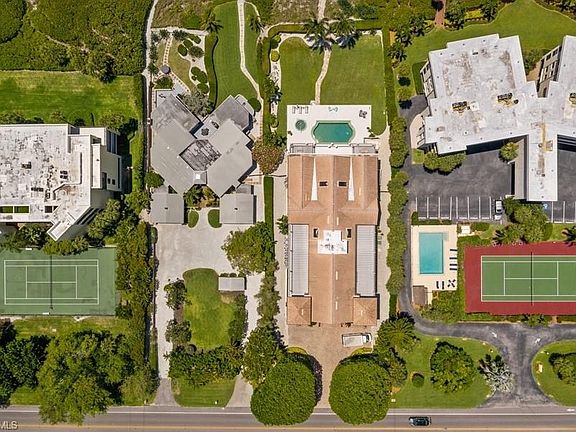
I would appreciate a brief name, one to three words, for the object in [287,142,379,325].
house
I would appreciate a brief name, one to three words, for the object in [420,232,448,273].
swimming pool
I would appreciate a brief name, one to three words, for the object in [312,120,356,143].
swimming pool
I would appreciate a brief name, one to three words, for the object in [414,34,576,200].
building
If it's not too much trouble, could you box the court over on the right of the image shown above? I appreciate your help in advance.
[465,242,576,313]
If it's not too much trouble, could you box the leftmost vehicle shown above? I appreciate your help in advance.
[342,334,371,348]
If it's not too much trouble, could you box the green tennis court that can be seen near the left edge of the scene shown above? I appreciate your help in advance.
[0,247,116,315]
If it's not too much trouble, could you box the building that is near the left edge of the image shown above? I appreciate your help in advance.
[0,124,122,240]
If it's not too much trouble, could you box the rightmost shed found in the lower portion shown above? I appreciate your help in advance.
[410,286,428,306]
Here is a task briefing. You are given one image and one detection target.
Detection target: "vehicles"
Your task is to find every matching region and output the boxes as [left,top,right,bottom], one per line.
[409,416,429,426]
[342,334,371,348]
[493,200,505,220]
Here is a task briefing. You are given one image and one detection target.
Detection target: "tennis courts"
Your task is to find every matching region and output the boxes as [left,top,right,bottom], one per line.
[465,242,576,313]
[0,247,116,315]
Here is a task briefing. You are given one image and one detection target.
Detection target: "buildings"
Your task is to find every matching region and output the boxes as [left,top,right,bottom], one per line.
[414,34,576,200]
[410,286,428,306]
[0,124,122,240]
[287,142,379,325]
[219,277,245,291]
[151,89,255,224]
